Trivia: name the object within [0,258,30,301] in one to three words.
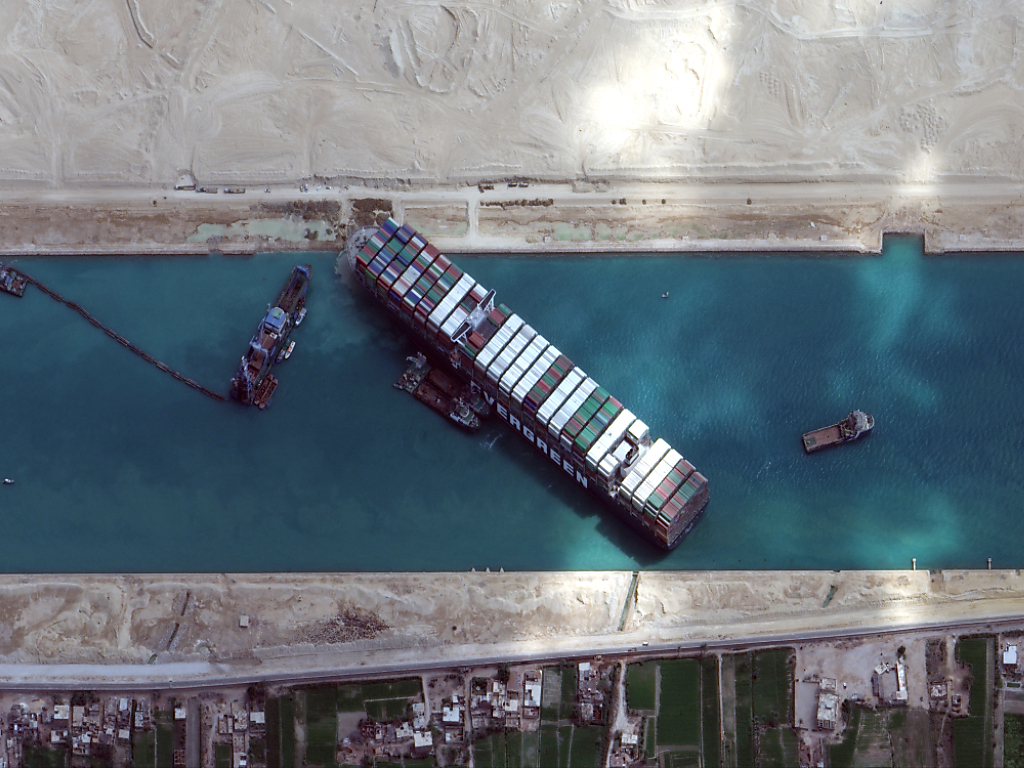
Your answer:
ship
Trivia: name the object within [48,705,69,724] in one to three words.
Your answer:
house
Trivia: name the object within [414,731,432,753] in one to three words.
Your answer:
house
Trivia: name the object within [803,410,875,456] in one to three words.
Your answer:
ship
